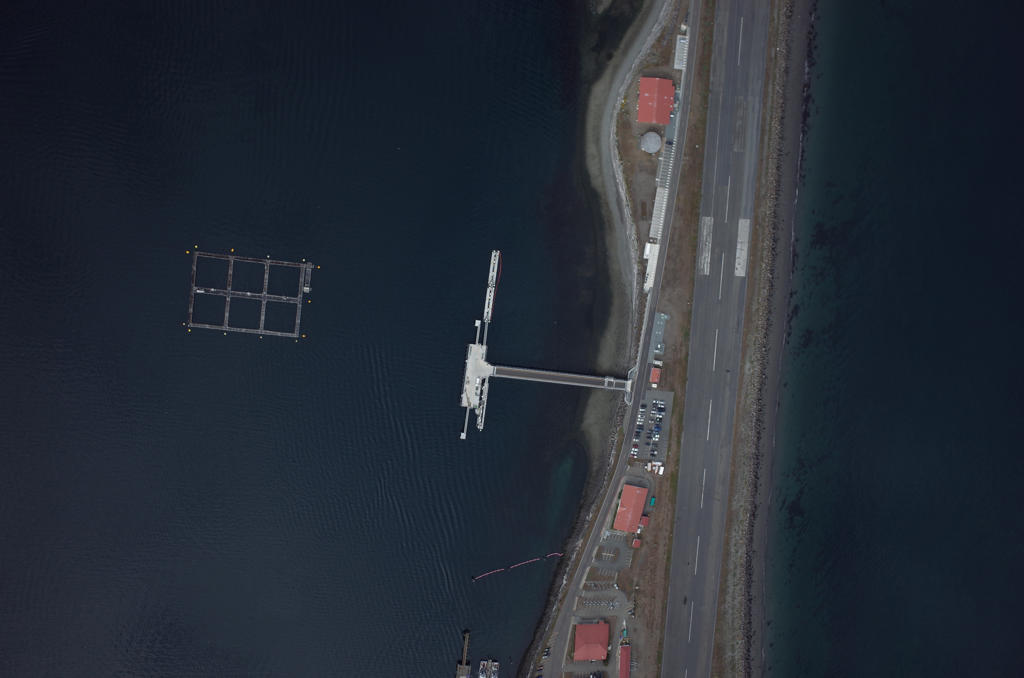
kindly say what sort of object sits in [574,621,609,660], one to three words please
building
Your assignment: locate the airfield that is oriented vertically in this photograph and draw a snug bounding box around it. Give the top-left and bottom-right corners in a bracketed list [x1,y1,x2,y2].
[661,0,770,678]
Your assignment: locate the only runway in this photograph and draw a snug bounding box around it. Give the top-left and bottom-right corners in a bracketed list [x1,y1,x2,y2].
[661,0,770,678]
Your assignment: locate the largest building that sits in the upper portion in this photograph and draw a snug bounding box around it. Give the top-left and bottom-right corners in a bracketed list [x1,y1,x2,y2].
[637,77,675,126]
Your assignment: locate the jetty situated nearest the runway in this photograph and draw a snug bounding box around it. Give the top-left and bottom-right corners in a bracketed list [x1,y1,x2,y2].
[459,320,632,439]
